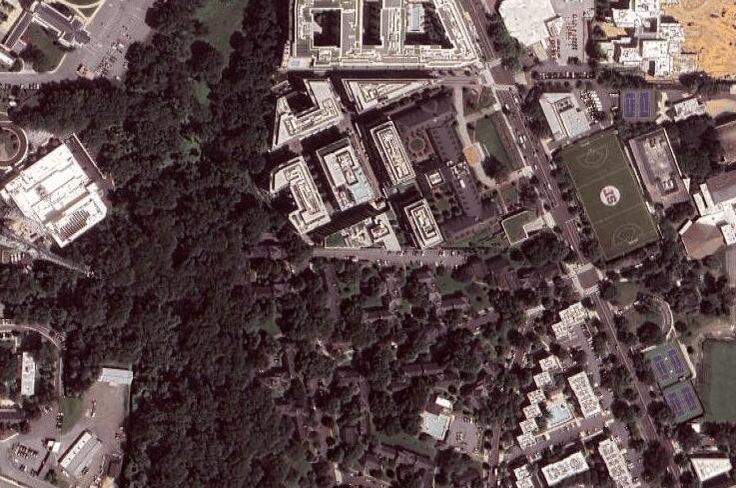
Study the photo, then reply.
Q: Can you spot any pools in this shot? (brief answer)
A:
Yes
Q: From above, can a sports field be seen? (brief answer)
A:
Yes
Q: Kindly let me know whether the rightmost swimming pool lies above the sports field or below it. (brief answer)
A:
below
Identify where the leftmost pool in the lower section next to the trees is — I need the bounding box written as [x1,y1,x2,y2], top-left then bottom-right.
[420,412,450,440]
